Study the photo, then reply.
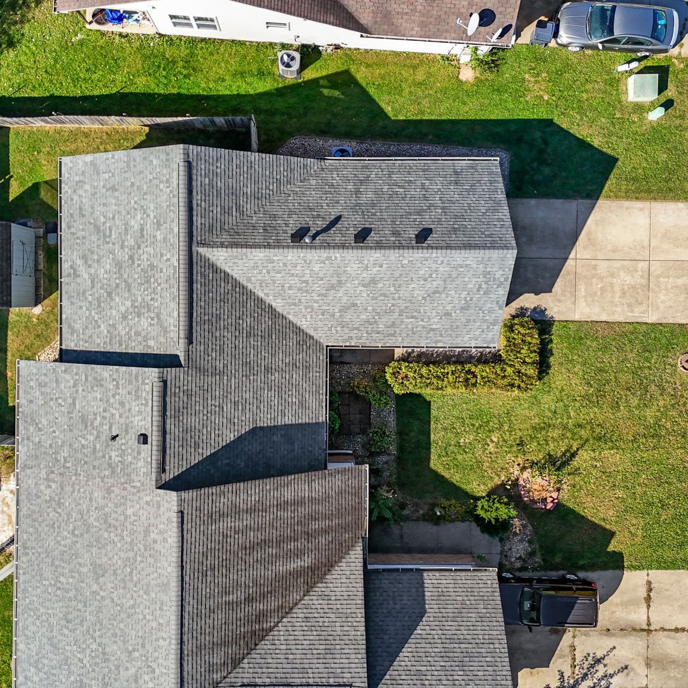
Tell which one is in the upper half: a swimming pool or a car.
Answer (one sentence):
Looking in the upper half, you will find a car.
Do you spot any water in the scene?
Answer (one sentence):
No, the scene doesn't show any water.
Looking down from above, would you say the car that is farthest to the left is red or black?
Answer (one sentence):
The car that is farthest to the left is black.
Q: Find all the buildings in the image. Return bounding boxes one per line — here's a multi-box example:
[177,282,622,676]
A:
[12,145,517,688]
[51,0,523,61]
[0,219,33,309]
